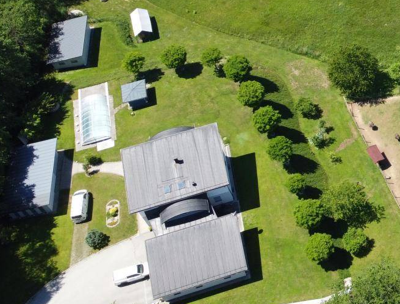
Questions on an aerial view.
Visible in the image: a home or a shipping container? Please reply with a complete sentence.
This aerial view contains a home.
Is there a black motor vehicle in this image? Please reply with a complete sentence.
No, there appears to be no black motor vehicle in this shot.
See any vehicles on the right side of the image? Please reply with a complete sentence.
No, looking on the right side of the image, there is no vehicle.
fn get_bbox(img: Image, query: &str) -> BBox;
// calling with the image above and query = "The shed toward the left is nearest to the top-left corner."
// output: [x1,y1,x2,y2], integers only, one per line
[48,16,90,72]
